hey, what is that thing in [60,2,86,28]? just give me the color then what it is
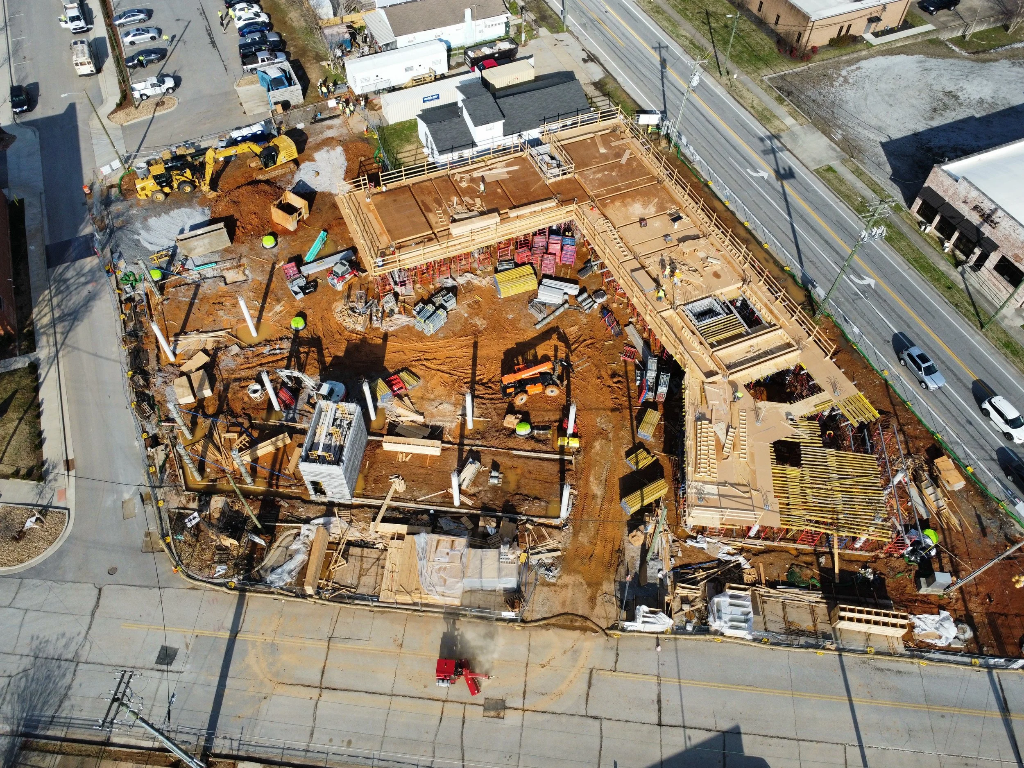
white truck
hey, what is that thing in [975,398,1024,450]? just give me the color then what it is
white car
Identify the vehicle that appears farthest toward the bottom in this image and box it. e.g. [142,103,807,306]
[428,655,494,697]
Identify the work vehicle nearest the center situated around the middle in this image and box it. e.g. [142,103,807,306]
[495,349,591,405]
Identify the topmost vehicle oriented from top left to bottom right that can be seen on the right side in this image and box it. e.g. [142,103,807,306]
[894,344,949,390]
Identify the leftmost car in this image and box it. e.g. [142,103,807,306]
[8,83,31,111]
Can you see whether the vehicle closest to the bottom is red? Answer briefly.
Yes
